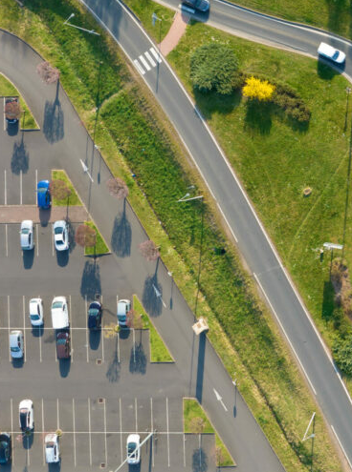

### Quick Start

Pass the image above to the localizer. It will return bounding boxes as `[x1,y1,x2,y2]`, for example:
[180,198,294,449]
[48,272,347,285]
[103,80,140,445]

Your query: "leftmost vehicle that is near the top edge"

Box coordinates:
[179,0,210,13]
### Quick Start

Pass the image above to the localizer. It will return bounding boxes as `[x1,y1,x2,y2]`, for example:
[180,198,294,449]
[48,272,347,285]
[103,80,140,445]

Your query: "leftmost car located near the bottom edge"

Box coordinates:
[0,435,12,464]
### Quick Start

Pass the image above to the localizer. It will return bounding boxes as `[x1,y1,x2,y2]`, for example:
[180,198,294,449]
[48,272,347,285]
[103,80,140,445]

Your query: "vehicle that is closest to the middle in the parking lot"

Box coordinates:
[115,300,131,327]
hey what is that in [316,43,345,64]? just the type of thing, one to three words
car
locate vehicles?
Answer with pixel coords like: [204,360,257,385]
[9,330,25,358]
[44,434,61,464]
[18,402,35,431]
[19,223,36,249]
[316,43,345,64]
[28,299,45,325]
[36,181,52,208]
[52,296,70,330]
[87,301,103,329]
[54,221,70,252]
[0,435,12,464]
[179,0,210,13]
[115,300,131,327]
[55,330,72,361]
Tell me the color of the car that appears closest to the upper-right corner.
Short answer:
white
